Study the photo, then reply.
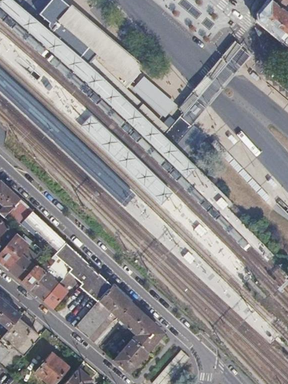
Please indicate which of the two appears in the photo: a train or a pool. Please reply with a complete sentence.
Looking from above, you can make out a train.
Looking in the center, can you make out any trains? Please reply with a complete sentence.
Yes, you'll find a train in the center.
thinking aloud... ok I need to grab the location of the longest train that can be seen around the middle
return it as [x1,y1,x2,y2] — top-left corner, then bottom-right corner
[48,54,250,250]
